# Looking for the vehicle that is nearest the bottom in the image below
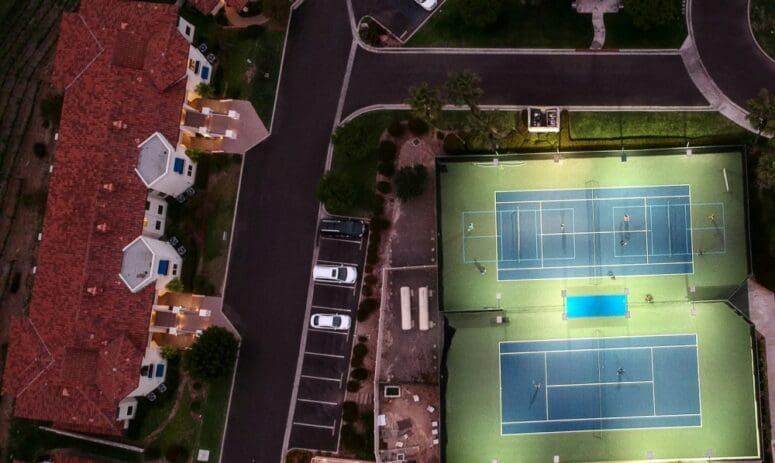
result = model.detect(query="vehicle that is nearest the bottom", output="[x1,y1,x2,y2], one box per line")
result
[310,312,352,331]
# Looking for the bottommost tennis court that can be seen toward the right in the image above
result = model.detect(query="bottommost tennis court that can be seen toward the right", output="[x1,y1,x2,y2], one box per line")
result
[444,303,758,463]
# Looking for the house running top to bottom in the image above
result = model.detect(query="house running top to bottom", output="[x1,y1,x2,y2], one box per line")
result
[2,0,212,437]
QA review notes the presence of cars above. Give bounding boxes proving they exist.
[313,263,359,284]
[320,219,368,241]
[414,0,439,12]
[310,312,352,331]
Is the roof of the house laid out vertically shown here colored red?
Yes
